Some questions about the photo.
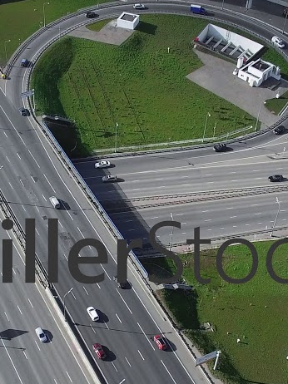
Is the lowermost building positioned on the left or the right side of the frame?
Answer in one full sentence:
It is on the right.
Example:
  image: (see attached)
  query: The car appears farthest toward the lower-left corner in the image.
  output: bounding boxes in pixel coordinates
[36,326,50,344]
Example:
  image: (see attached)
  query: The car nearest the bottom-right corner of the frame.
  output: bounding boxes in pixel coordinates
[153,333,169,352]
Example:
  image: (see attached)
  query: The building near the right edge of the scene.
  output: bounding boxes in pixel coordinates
[240,55,278,88]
